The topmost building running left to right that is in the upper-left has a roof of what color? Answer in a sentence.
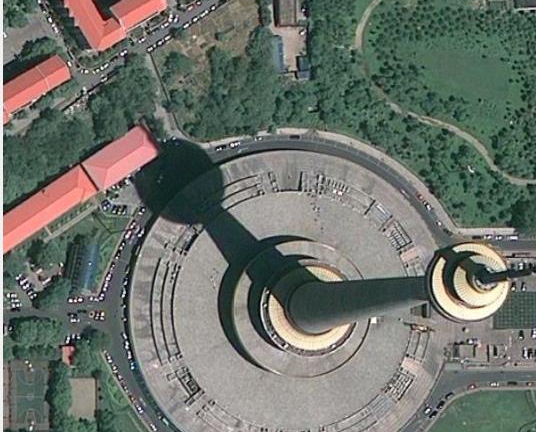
The roof over the topmost building running left to right that is in the upper-left appears red.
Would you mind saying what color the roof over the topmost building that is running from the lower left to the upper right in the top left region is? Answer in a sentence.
From above, the roof of the topmost building that is running from the lower left to the upper right in the top left region looks red.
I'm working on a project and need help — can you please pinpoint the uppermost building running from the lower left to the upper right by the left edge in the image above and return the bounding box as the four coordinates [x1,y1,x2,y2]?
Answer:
[0,54,71,118]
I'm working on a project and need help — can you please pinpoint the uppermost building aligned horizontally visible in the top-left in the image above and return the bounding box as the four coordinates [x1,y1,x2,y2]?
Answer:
[104,0,168,31]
